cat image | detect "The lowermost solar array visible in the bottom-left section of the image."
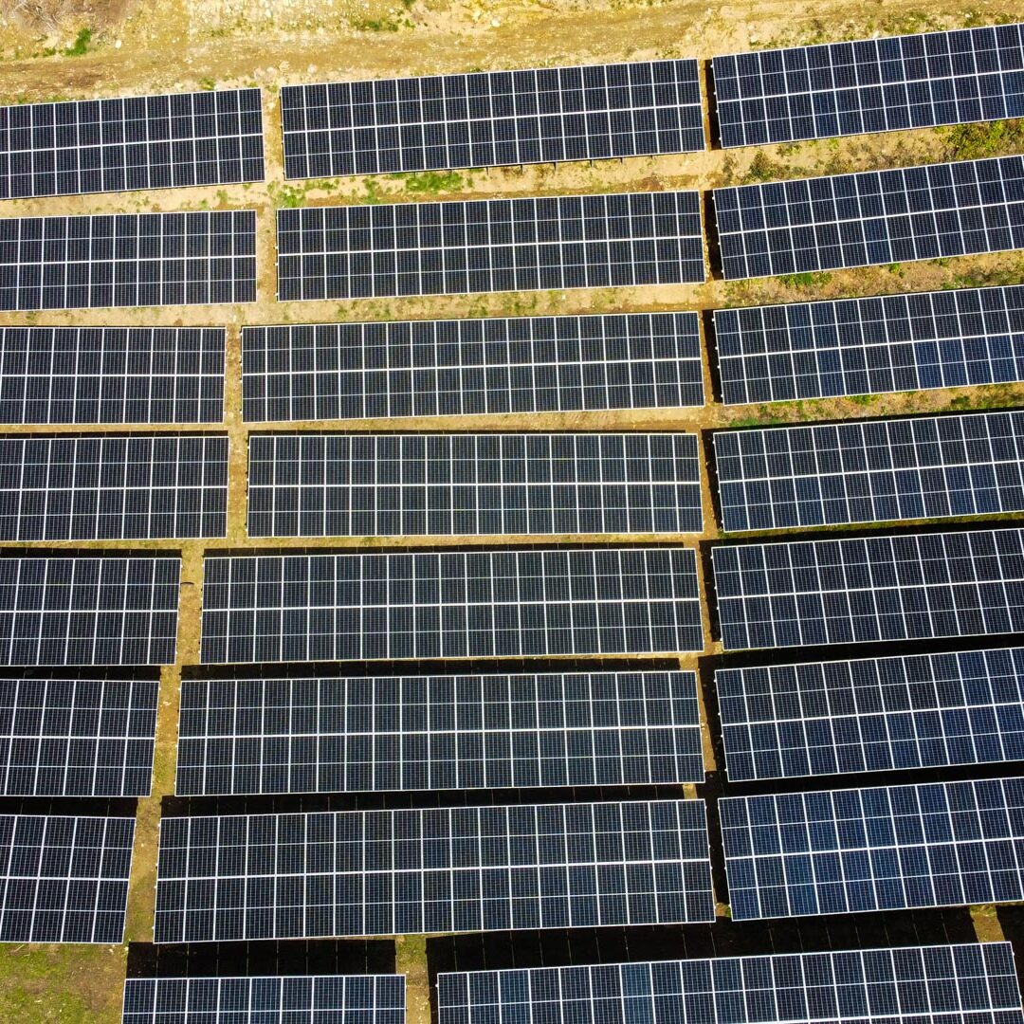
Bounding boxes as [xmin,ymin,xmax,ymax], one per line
[123,975,407,1024]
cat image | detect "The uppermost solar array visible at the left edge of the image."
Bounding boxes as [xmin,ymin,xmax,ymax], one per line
[0,88,265,199]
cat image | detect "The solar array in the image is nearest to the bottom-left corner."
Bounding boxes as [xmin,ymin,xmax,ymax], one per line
[0,815,137,942]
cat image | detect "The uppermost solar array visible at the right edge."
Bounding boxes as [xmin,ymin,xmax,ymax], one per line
[712,23,1024,148]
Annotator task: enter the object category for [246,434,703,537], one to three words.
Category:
solar array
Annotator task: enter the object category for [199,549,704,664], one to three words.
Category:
solar array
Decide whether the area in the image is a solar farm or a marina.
solar farm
